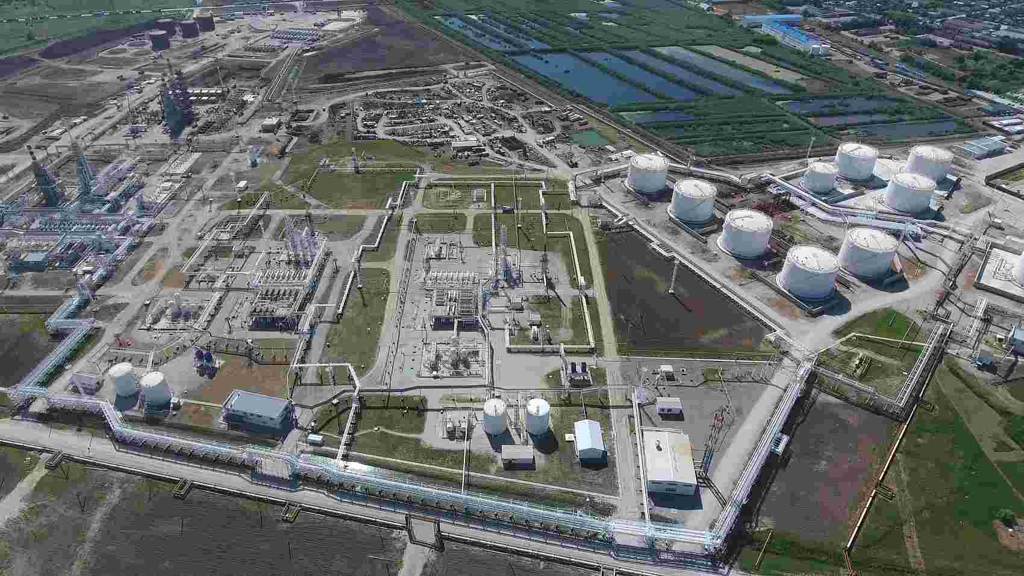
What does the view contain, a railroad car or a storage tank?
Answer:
storage tank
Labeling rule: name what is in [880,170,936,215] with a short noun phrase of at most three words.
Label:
storage tank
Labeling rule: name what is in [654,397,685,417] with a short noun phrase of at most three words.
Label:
shed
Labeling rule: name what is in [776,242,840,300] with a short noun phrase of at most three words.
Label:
storage tank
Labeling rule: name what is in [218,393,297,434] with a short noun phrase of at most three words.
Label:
building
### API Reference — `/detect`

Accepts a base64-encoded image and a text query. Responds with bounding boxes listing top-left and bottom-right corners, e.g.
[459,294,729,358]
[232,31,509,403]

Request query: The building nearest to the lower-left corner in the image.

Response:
[65,365,110,395]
